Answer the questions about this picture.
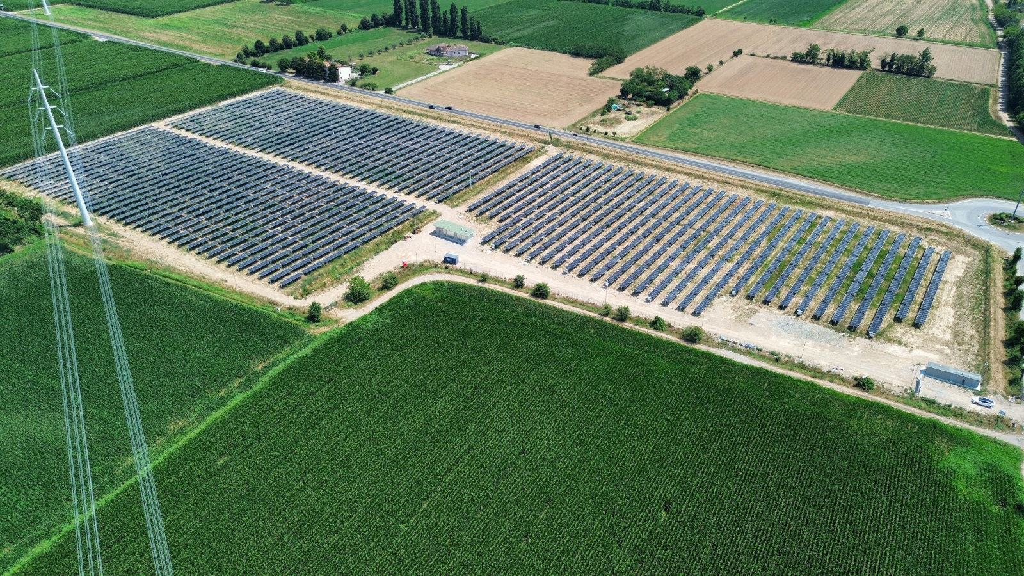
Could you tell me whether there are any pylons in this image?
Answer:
Yes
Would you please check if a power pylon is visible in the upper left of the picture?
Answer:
Yes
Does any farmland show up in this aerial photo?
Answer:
Yes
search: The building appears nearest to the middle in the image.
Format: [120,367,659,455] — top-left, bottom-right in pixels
[433,219,477,245]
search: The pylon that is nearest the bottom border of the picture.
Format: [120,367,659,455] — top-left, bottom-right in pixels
[28,69,94,227]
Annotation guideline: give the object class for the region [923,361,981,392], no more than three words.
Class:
building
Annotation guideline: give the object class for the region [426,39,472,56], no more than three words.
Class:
house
